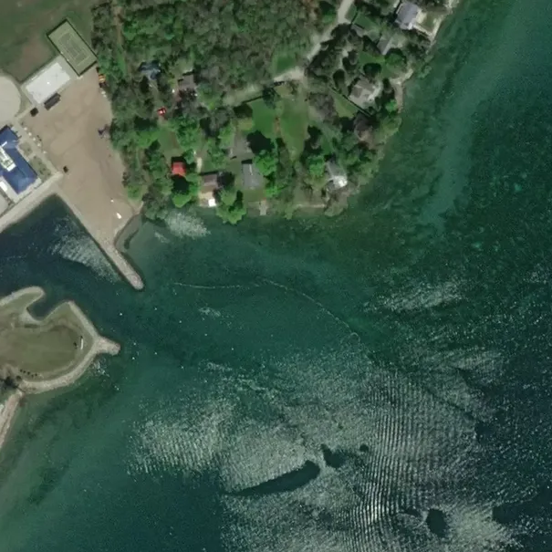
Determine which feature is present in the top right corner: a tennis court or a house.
house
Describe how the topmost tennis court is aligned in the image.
diagonally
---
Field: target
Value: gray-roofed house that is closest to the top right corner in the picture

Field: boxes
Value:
[394,3,424,31]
